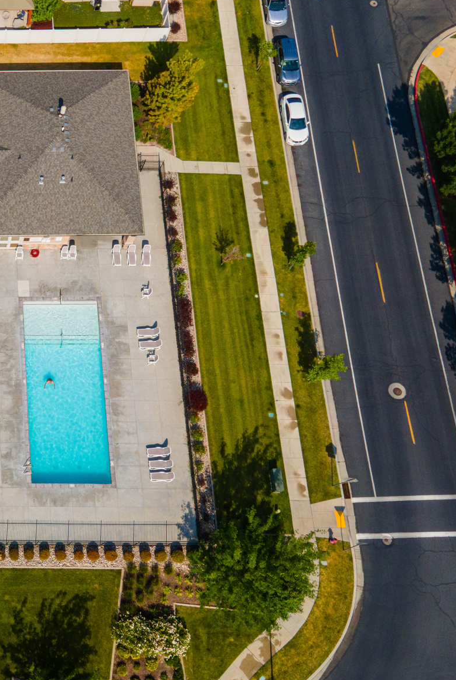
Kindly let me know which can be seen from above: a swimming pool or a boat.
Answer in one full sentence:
This aerial view contains a swimming pool.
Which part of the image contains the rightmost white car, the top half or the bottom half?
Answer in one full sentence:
You can find the rightmost white car in the top half.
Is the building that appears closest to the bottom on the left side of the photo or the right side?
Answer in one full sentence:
The building that appears closest to the bottom is on the left side of the image.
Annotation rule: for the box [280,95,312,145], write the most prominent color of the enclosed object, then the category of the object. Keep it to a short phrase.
white car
